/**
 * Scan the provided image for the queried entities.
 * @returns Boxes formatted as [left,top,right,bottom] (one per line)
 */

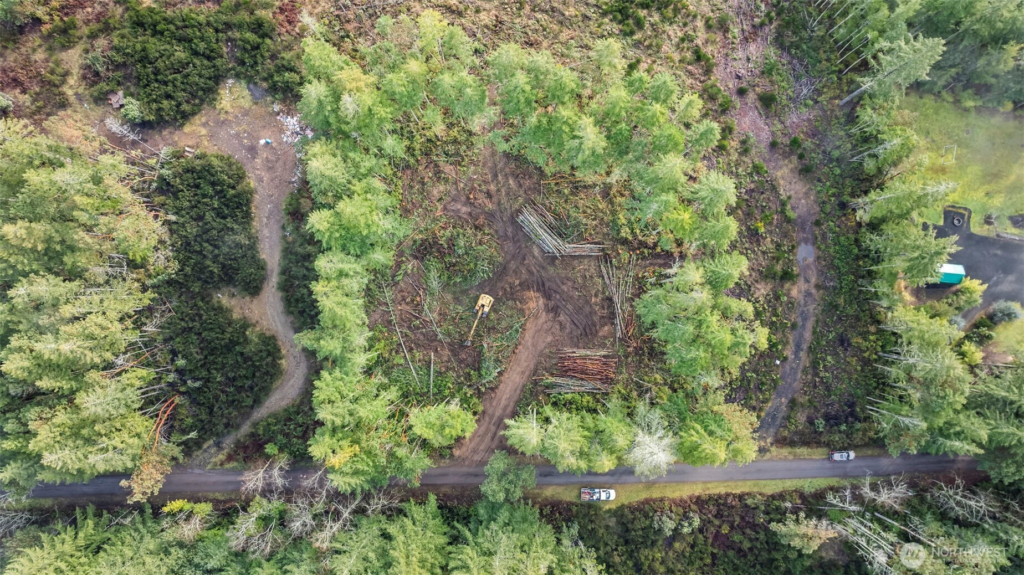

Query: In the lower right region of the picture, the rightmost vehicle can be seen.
[831,451,857,463]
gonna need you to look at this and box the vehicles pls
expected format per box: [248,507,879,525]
[467,291,495,343]
[581,490,617,504]
[831,451,857,463]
